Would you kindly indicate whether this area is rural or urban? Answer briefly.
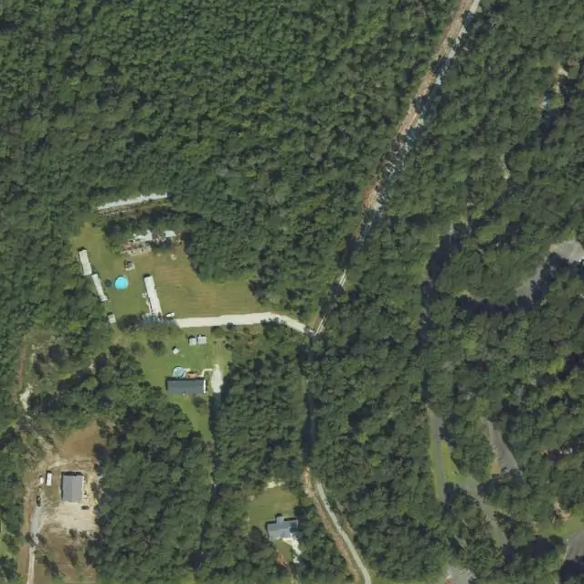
rural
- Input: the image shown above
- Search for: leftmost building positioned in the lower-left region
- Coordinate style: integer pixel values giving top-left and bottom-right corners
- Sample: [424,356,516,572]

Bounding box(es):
[62,476,83,503]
